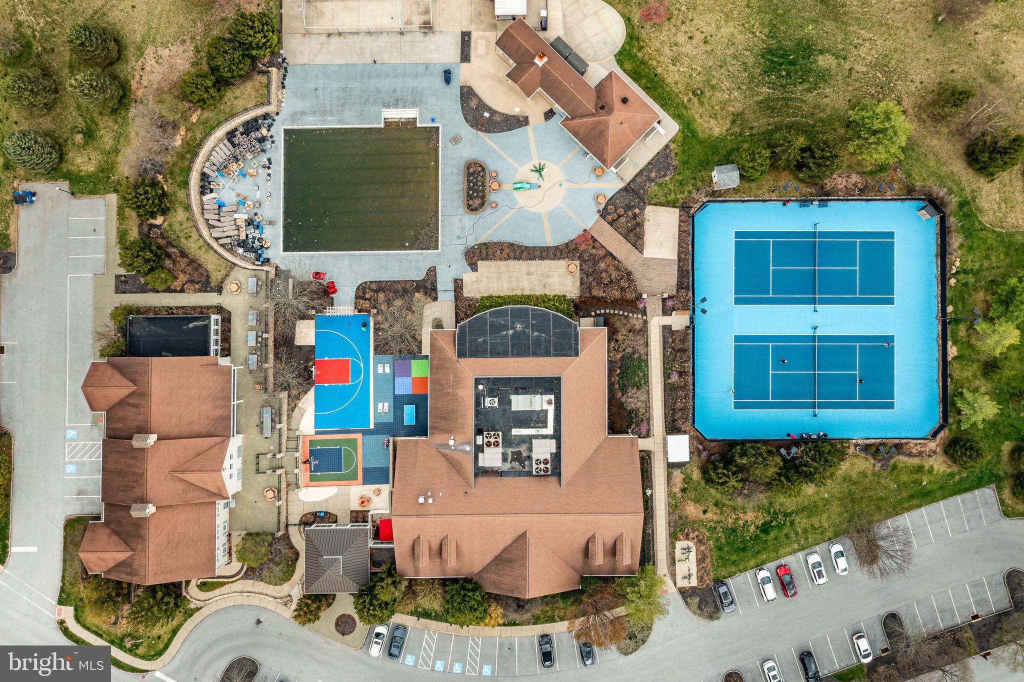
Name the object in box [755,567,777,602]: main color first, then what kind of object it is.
white car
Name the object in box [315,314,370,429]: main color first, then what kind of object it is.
blue basketball court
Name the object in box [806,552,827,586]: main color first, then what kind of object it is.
white car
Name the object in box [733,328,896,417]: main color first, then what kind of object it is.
blue tennis court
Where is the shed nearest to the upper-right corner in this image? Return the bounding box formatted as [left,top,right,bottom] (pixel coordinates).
[711,165,740,191]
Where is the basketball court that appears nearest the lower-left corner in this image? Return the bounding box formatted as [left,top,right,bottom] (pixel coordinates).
[303,434,362,487]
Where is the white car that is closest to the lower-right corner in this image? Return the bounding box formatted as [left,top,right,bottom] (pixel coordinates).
[851,631,872,665]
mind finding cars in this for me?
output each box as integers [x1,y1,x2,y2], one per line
[755,567,777,602]
[806,552,827,586]
[776,564,797,598]
[388,625,407,659]
[828,541,848,575]
[851,631,872,665]
[762,657,782,682]
[369,623,388,658]
[714,580,735,613]
[538,634,554,668]
[799,651,820,682]
[578,637,595,670]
